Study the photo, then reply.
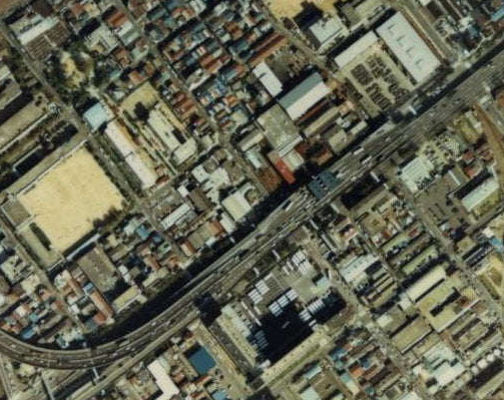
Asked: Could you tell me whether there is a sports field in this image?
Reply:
Yes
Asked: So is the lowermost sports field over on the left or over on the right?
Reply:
left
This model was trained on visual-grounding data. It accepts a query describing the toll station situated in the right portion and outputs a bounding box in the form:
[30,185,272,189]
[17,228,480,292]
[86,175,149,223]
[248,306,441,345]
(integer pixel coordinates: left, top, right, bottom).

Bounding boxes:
[309,169,337,198]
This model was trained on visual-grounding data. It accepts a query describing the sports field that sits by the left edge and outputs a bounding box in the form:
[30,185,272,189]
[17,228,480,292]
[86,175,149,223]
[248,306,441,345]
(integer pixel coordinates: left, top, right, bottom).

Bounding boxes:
[20,148,126,255]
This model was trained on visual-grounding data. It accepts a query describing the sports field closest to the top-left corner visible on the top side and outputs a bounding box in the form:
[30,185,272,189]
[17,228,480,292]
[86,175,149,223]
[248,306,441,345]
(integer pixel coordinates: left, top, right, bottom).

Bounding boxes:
[123,82,163,117]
